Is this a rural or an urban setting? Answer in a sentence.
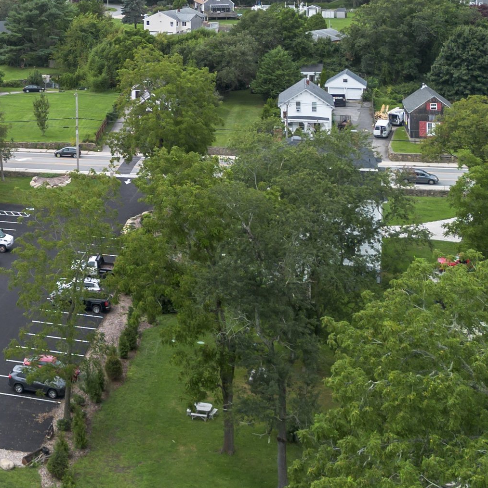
From above, the setting appears rural.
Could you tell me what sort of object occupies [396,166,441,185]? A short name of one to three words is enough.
car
